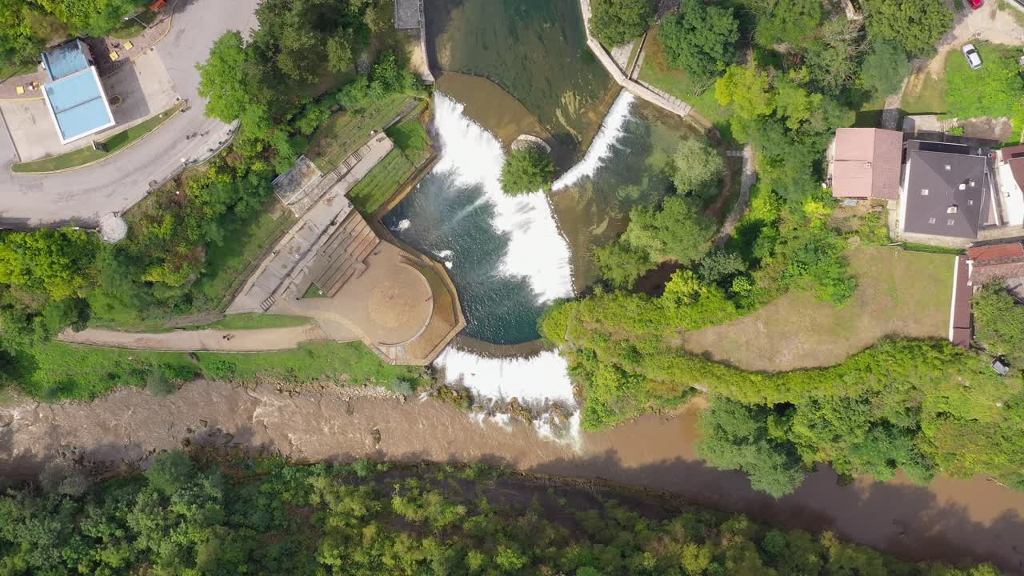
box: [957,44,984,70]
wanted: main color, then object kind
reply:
white car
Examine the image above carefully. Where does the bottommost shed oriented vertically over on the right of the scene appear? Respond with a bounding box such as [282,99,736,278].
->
[946,255,972,347]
